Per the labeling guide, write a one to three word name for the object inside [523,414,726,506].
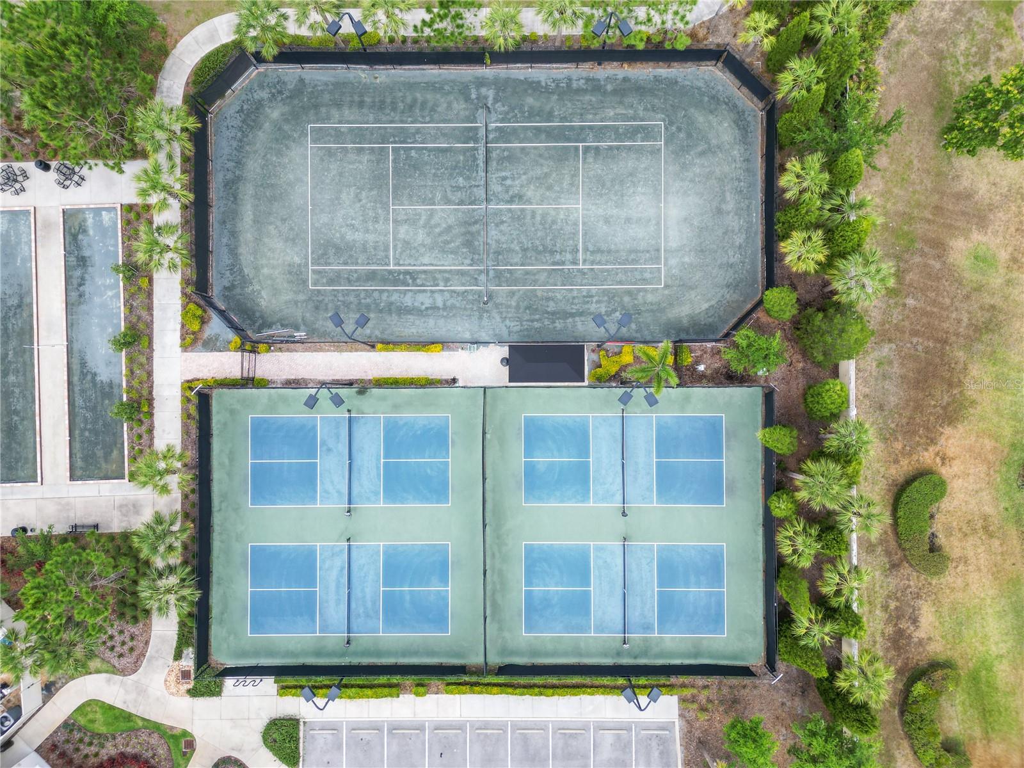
sports court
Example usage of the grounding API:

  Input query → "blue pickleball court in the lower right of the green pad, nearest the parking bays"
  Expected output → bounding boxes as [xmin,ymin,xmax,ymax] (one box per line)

[523,542,727,637]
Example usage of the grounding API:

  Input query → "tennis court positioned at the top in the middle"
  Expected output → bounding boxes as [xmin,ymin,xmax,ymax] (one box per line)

[211,66,763,342]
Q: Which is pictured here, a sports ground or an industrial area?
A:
sports ground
